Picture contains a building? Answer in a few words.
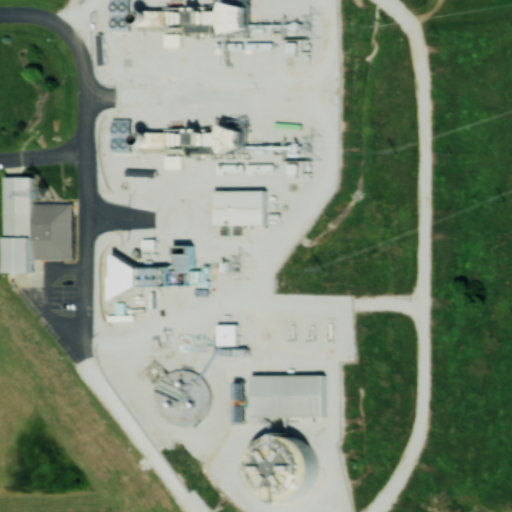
Yes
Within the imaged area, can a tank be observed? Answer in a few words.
Yes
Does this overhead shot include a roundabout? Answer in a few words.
No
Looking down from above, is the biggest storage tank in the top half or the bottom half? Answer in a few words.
bottom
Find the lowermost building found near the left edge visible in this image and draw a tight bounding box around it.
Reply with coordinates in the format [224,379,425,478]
[0,238,32,273]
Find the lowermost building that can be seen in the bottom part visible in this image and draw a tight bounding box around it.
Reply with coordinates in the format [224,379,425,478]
[248,375,325,418]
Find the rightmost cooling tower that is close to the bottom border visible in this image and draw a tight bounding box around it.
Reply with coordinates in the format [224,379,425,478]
[240,428,317,502]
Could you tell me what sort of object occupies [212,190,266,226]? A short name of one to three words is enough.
building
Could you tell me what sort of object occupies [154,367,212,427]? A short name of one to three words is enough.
storage tank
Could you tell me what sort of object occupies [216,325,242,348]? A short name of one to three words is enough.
building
